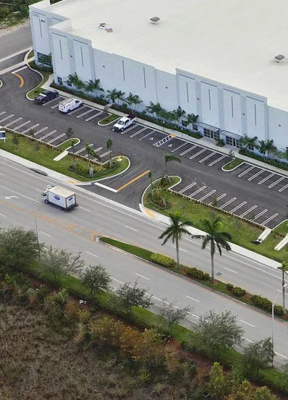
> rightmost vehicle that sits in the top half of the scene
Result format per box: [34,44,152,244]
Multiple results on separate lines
[112,115,138,132]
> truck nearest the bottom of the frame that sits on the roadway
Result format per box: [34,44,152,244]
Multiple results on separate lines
[41,181,77,206]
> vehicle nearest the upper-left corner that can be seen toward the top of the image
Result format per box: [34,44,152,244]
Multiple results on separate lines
[30,89,57,103]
